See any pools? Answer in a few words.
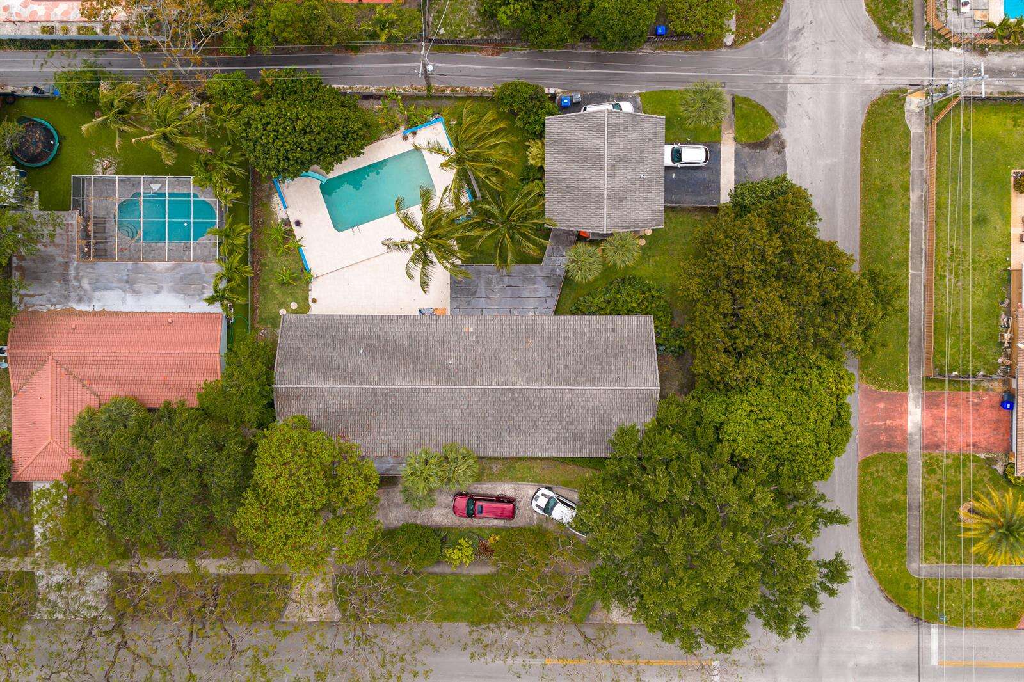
Yes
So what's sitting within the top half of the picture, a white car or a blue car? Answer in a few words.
white car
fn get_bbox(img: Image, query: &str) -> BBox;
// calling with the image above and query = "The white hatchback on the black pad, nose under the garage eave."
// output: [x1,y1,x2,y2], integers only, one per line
[665,138,710,168]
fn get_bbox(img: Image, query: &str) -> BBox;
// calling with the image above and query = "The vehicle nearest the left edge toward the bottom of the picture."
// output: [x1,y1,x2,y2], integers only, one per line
[453,491,516,522]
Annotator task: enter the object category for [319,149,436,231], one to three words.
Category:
swimming pool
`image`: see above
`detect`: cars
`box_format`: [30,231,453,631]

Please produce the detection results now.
[453,491,516,522]
[530,491,589,536]
[665,138,710,168]
[579,93,636,109]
